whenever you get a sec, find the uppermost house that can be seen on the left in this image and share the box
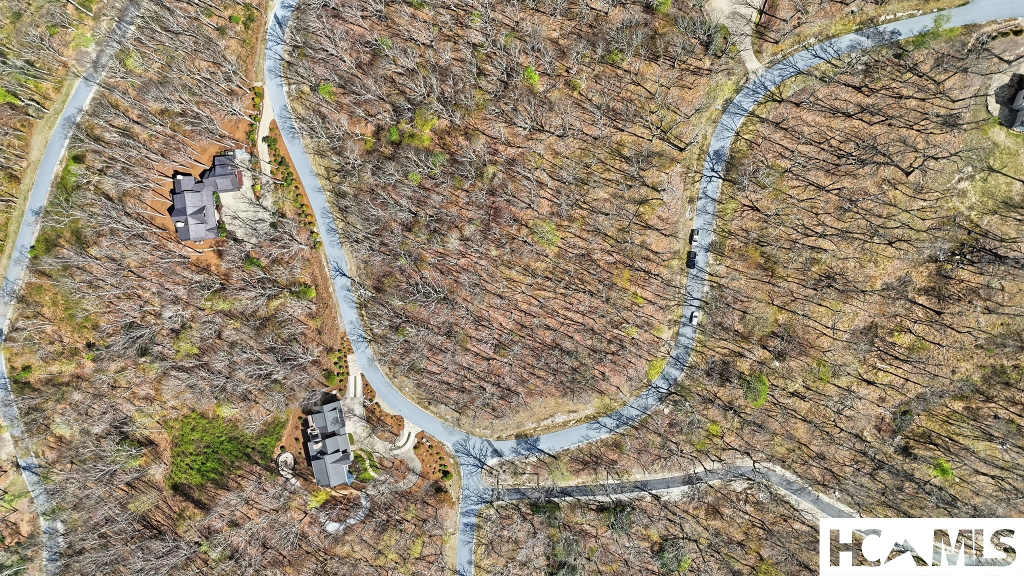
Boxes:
[171,156,245,241]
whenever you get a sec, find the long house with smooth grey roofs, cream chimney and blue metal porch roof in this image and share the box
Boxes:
[307,399,356,487]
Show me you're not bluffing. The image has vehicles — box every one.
[690,252,698,269]
[693,312,700,325]
[692,229,700,245]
